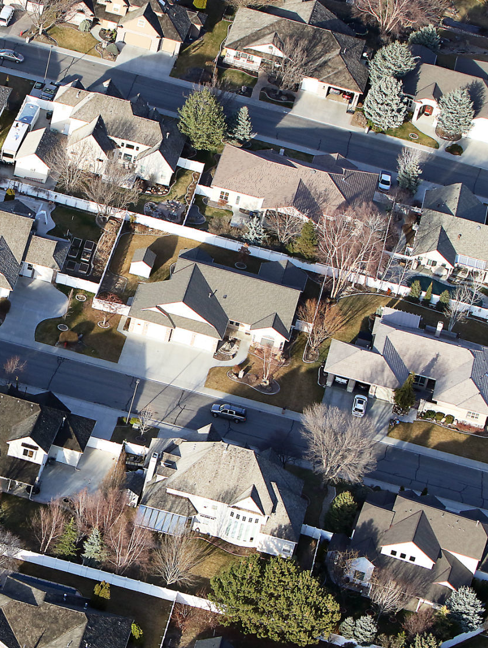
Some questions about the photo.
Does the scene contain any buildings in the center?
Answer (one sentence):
Yes, a building is visible in the center.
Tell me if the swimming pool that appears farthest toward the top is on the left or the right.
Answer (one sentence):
The swimming pool that appears farthest toward the top is on the right side of the image.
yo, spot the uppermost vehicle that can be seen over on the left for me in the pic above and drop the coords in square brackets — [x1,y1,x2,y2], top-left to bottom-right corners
[0,6,16,22]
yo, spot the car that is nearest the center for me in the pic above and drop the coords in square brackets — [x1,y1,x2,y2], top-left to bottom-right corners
[211,403,248,422]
